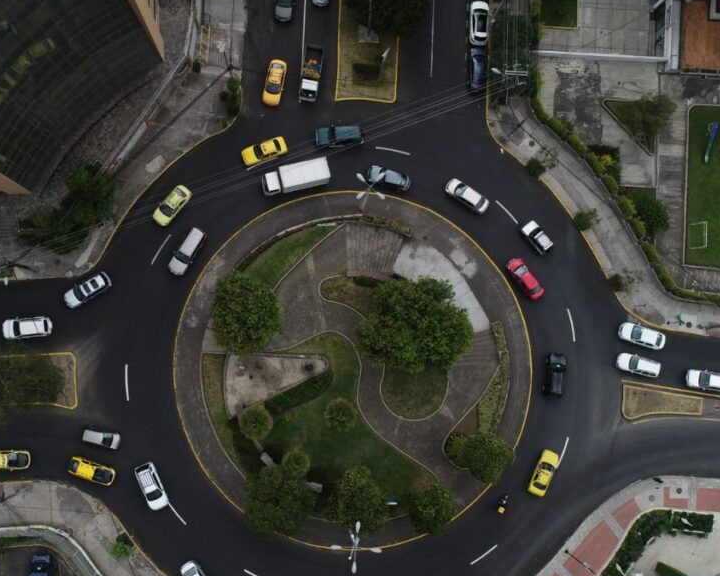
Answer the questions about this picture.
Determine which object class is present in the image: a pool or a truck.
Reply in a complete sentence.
There is a truck in the scene.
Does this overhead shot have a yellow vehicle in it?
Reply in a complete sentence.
Yes, this view includes a yellow vehicle.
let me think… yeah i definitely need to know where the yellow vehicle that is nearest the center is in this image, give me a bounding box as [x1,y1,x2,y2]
[241,134,290,167]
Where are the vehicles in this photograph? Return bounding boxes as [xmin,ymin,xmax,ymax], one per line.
[241,134,290,167]
[468,1,491,46]
[64,454,117,487]
[616,321,667,350]
[261,57,286,106]
[529,450,559,497]
[504,256,549,301]
[134,461,168,512]
[518,219,557,257]
[366,165,413,193]
[153,183,192,228]
[272,0,295,22]
[444,180,491,214]
[0,447,32,472]
[296,42,326,104]
[259,155,333,198]
[167,225,207,277]
[180,559,206,576]
[62,271,113,306]
[685,367,720,391]
[311,0,330,7]
[615,352,663,380]
[80,427,123,452]
[3,317,53,340]
[316,124,363,149]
